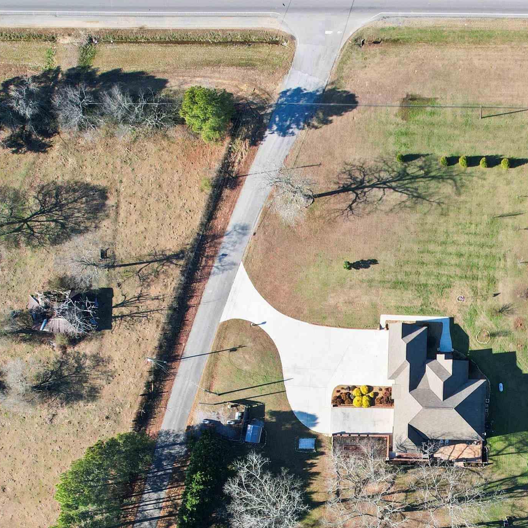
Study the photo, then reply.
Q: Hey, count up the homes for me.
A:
2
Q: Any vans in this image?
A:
No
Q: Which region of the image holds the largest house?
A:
bottom right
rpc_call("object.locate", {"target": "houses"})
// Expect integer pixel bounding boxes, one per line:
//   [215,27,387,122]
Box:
[26,287,104,333]
[388,321,486,451]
